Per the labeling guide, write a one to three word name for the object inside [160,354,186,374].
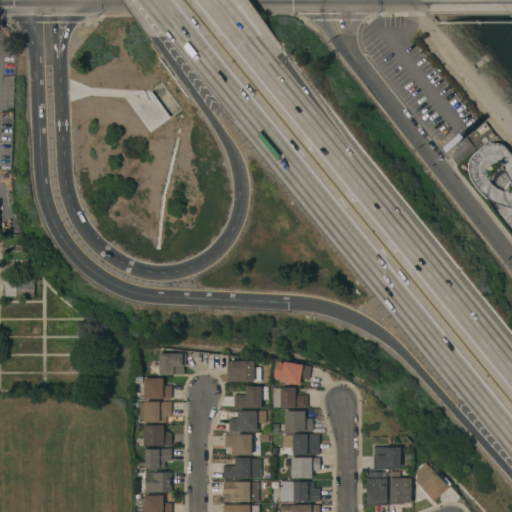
house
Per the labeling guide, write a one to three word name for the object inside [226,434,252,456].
house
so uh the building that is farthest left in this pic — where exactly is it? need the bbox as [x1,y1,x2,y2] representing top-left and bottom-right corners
[4,279,34,297]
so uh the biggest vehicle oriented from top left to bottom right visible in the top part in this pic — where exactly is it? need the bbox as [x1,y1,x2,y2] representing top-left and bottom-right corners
[260,134,290,170]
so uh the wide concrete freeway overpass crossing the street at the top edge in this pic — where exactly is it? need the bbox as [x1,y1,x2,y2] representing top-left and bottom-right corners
[124,0,279,44]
